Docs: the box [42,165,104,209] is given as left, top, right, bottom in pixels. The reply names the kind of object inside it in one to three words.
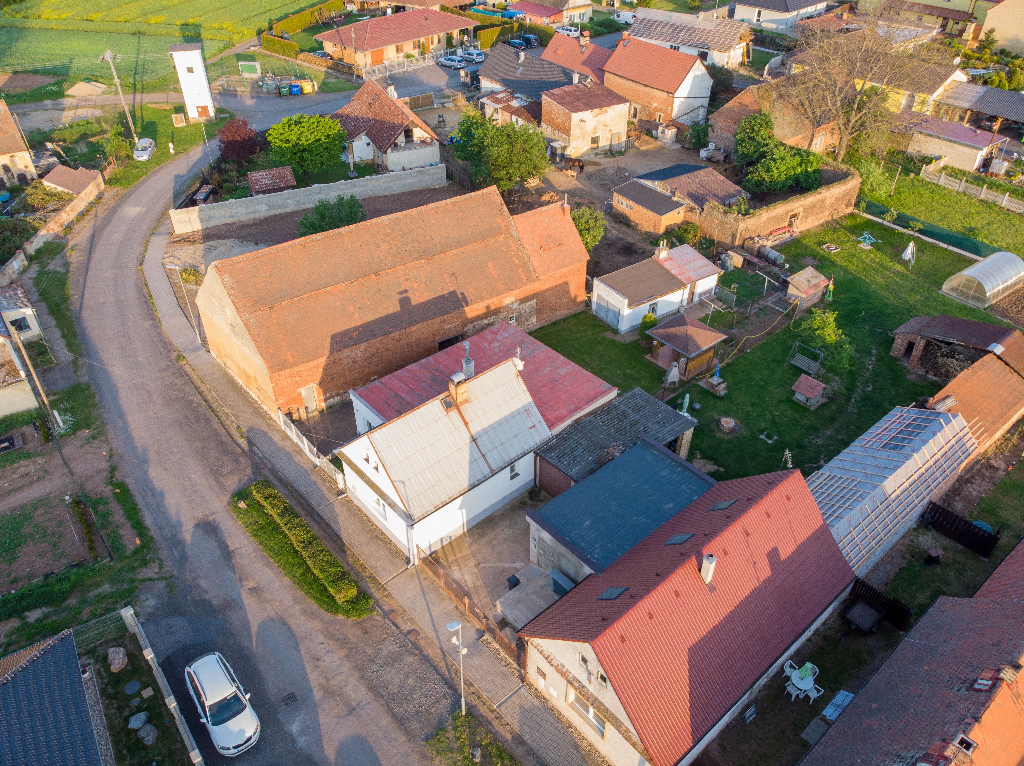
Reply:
shed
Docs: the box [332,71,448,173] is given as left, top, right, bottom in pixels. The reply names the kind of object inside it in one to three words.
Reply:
house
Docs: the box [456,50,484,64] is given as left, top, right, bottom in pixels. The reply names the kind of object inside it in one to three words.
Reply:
car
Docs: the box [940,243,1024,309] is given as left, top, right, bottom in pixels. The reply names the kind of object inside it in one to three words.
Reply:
greenhouse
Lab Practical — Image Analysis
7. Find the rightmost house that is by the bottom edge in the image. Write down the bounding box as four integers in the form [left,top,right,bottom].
[790,592,1024,766]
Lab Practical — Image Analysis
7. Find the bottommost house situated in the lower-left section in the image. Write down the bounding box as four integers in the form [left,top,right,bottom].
[0,627,104,766]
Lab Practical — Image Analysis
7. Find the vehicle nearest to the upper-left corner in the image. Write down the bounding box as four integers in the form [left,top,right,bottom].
[130,136,157,160]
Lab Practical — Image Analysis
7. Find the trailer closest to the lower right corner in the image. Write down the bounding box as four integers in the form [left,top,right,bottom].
[843,589,894,642]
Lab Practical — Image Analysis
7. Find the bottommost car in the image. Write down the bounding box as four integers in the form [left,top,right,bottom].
[178,646,260,756]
